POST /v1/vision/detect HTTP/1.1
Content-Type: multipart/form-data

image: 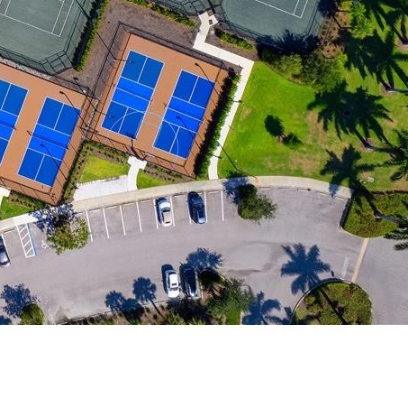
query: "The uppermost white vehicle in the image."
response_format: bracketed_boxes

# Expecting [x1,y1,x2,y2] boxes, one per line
[157,198,173,228]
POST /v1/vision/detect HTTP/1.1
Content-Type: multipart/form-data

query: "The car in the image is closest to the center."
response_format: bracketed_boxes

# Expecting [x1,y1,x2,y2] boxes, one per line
[188,193,206,224]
